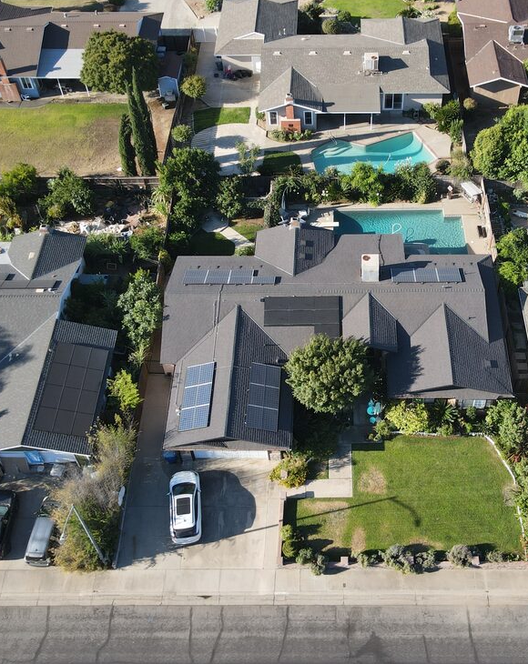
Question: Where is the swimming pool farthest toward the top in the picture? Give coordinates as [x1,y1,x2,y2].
[307,129,441,176]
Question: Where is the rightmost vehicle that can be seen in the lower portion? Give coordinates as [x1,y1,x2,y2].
[164,474,203,550]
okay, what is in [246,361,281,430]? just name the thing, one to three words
solar array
